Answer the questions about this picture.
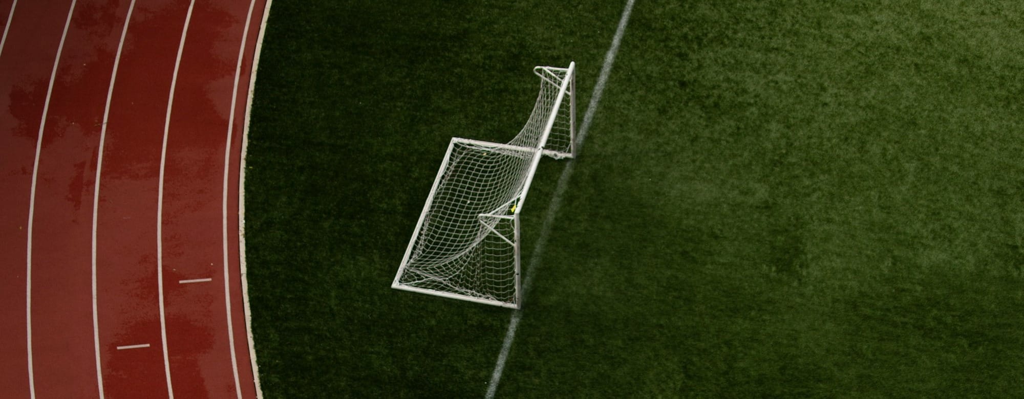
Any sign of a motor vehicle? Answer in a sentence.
No, the frame has no motor vehicle in it.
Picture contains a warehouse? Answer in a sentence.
No, there appears to be no warehouse in this shot.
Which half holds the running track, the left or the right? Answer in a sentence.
It is on the left.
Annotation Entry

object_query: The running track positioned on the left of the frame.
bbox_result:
[0,0,266,399]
